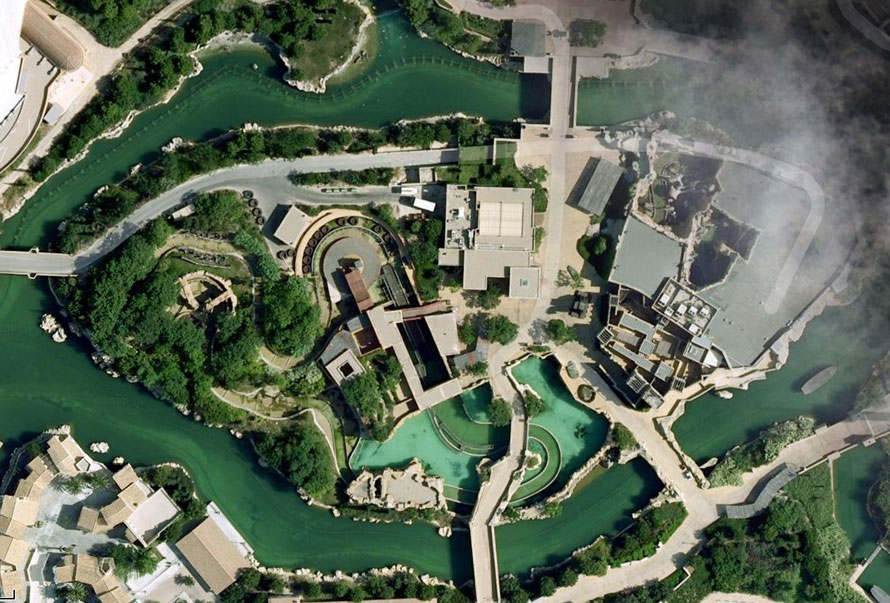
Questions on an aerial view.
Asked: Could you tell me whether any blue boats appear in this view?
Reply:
No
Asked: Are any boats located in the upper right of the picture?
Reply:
No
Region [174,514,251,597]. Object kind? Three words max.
building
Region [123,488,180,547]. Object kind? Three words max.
house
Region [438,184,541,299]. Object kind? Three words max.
building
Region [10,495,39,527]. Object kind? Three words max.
house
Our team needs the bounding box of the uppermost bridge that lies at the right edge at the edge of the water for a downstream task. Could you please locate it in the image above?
[807,395,890,466]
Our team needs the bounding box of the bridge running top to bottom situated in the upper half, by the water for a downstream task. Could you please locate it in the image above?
[551,56,578,128]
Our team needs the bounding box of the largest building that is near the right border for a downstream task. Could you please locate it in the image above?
[699,148,860,369]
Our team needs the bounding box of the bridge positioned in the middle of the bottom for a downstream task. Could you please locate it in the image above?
[468,415,529,603]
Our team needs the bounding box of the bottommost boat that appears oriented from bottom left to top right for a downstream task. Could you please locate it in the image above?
[799,367,835,394]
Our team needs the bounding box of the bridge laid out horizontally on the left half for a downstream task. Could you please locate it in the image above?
[0,247,75,280]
